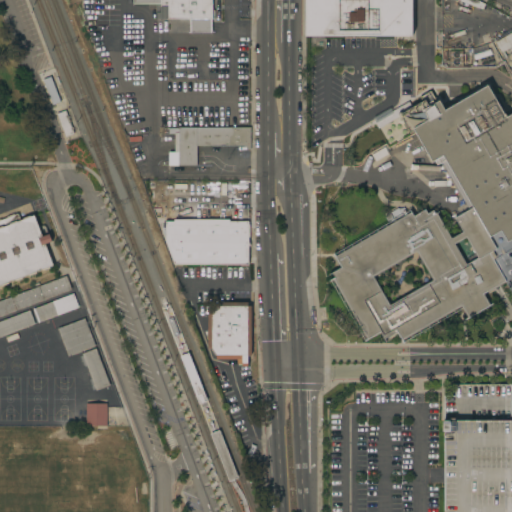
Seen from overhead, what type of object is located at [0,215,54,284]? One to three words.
building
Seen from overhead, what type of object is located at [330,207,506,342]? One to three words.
building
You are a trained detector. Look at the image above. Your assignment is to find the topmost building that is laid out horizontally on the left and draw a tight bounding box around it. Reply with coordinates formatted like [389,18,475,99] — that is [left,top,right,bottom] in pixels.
[133,0,214,33]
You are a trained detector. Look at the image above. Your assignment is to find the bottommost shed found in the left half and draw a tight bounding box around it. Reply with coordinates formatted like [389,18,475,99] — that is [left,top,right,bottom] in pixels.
[86,400,108,429]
